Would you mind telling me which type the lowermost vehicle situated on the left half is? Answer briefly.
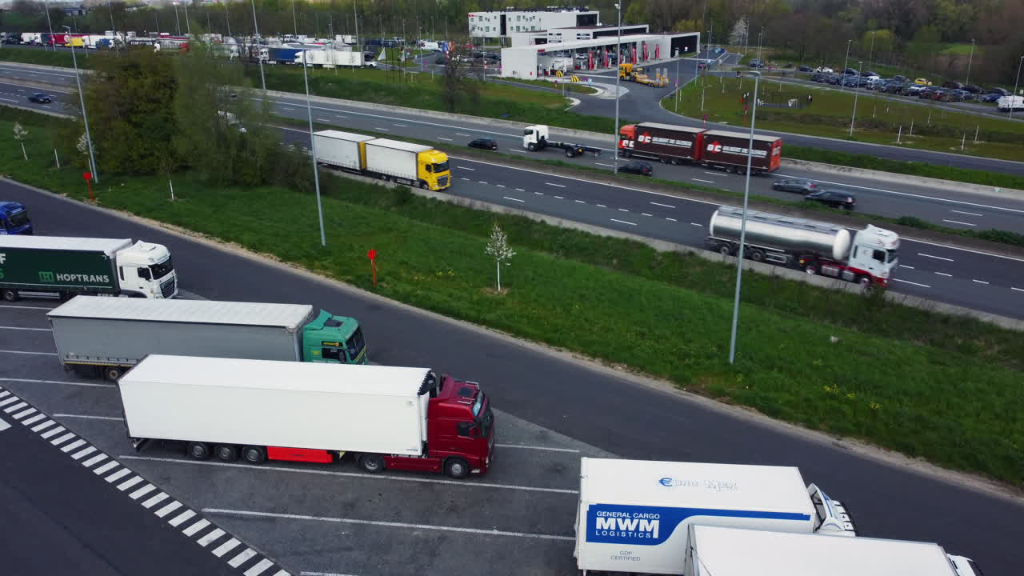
truck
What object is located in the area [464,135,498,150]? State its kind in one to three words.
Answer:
car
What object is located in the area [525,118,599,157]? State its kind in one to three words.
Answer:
truck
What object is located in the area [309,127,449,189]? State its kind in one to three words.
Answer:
truck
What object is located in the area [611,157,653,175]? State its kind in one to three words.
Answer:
car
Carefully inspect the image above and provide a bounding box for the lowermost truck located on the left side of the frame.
[116,354,494,476]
